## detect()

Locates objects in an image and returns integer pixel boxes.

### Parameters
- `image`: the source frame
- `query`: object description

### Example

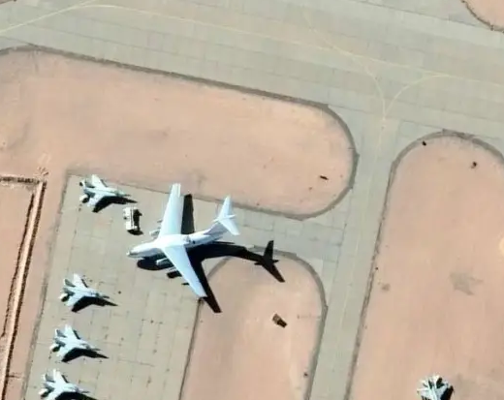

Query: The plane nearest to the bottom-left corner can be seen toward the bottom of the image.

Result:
[40,367,87,400]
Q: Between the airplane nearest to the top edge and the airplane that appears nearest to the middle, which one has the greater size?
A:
the airplane that appears nearest to the middle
